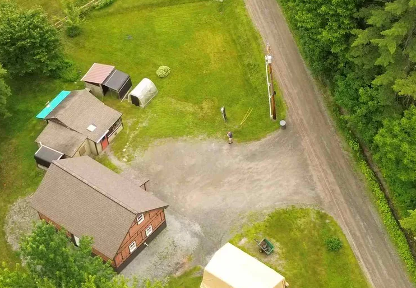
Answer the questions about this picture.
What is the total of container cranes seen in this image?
0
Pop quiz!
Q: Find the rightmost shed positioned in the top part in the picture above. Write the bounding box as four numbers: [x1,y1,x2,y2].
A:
[129,77,160,107]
